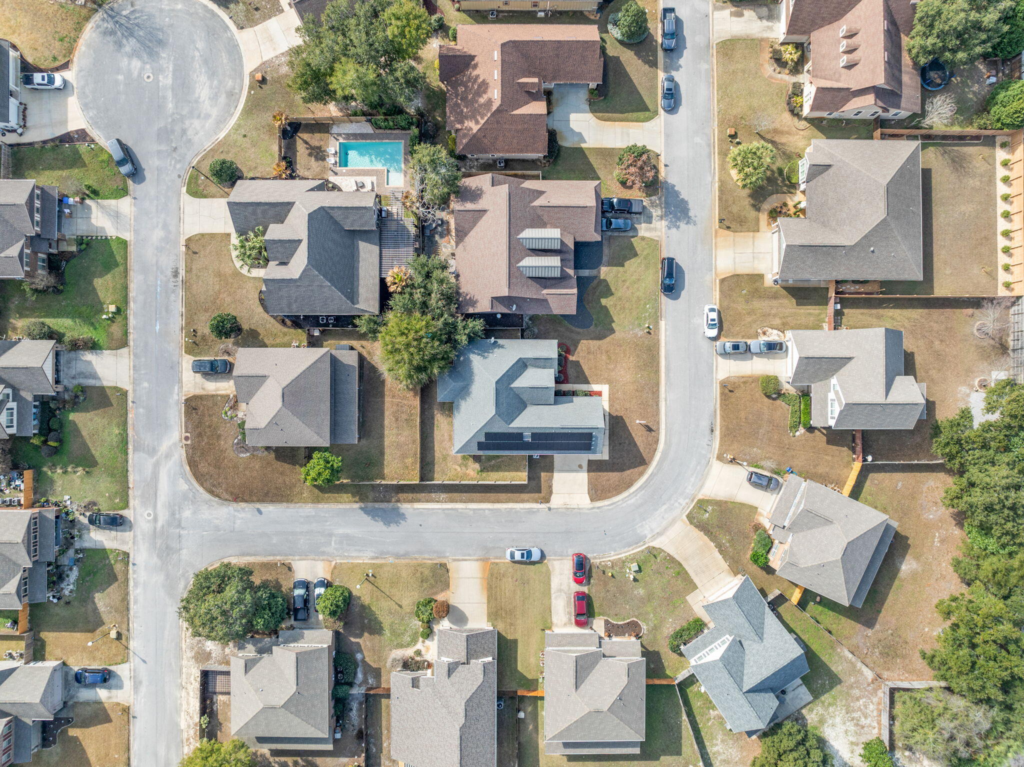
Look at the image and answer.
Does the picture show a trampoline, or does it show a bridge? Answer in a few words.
trampoline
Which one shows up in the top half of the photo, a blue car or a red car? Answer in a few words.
blue car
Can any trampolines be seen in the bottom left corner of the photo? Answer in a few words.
No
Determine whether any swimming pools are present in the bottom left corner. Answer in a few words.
No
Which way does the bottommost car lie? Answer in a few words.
horizontally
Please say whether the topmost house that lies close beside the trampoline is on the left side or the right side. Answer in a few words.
right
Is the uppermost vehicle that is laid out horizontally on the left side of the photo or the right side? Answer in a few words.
left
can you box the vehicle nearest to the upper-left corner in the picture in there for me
[24,72,68,92]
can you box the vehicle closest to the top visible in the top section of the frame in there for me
[660,7,679,54]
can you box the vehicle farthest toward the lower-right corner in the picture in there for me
[742,471,780,491]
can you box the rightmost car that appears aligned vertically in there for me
[702,304,719,339]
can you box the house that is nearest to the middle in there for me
[437,339,605,455]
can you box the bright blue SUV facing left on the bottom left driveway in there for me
[77,666,114,686]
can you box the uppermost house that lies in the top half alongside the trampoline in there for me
[780,0,921,118]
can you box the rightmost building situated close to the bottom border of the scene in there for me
[681,574,810,738]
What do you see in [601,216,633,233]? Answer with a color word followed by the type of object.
blue car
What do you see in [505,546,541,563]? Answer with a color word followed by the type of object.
white car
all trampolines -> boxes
[921,56,955,89]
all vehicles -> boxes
[659,257,677,295]
[742,471,780,491]
[505,546,541,563]
[292,576,311,621]
[571,551,588,584]
[660,75,677,113]
[601,196,644,215]
[77,666,114,686]
[24,72,68,92]
[714,339,748,356]
[89,511,127,529]
[748,339,786,355]
[107,139,137,179]
[572,590,589,626]
[191,358,232,375]
[660,7,679,54]
[601,216,633,233]
[311,576,328,612]
[702,304,719,339]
